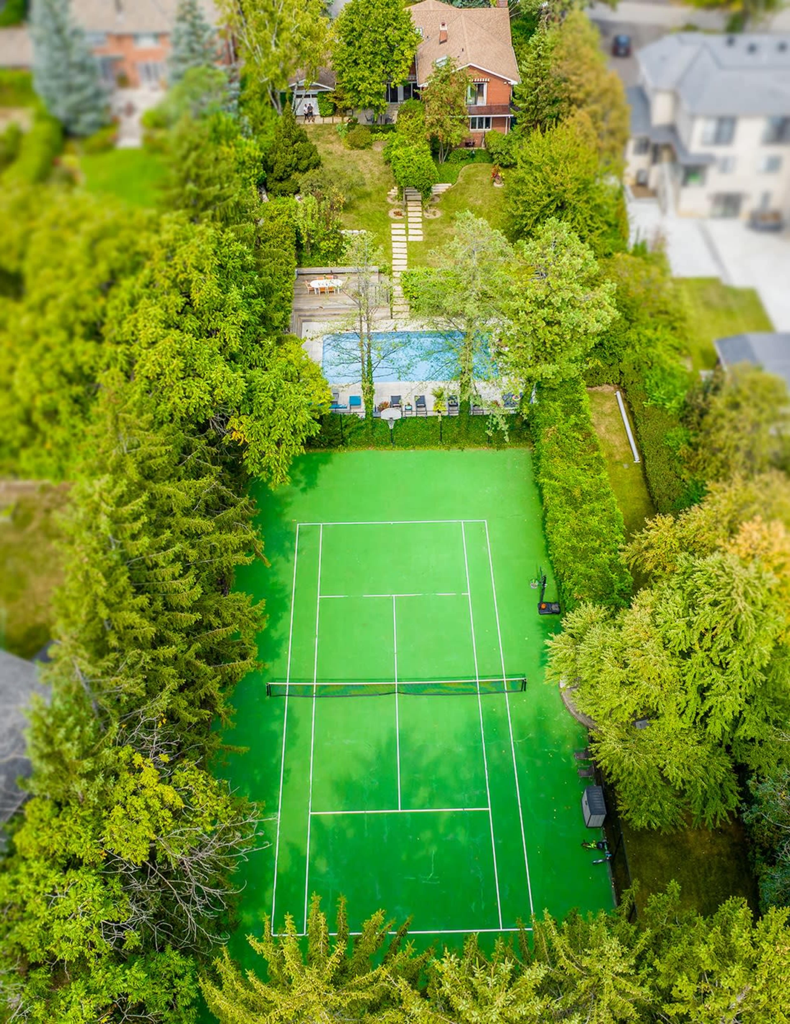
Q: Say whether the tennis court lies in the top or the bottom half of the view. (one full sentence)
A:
The tennis court is in the bottom half of the image.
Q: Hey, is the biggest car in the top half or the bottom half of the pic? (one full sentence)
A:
The biggest car sits in the top half of the picture.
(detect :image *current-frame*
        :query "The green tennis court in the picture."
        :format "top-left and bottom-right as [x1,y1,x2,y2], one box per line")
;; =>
[203,448,622,1002]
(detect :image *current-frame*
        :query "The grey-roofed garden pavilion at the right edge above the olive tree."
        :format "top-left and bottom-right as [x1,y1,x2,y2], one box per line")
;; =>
[710,342,790,411]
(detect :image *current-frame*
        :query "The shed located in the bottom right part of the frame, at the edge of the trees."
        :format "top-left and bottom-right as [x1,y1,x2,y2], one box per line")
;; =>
[583,785,608,827]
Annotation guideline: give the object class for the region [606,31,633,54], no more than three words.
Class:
car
